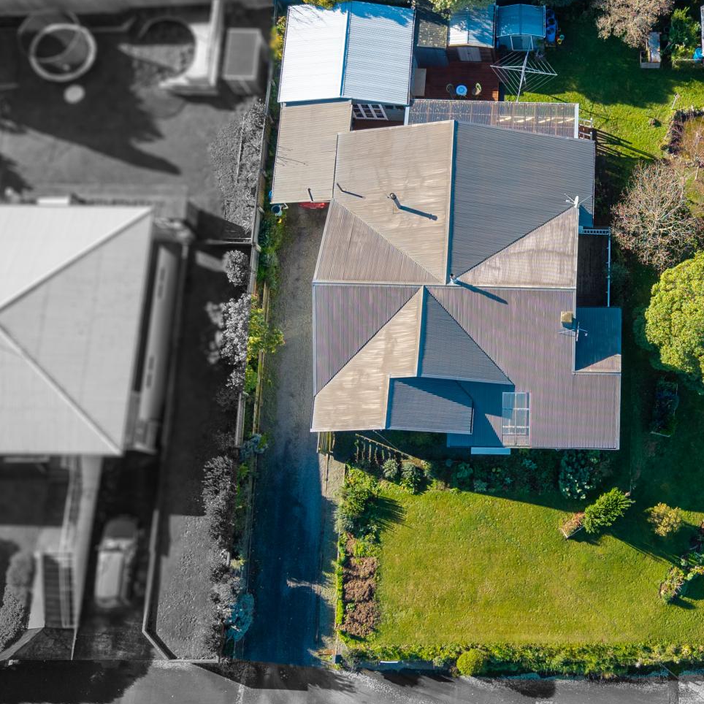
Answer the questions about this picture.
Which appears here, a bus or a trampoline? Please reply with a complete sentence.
Of the two, only a trampoline appears.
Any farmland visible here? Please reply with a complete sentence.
No, farmland can't be seen anywhere here.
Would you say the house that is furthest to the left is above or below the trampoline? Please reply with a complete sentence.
Looking at the scene, the house that is furthest to the left is located below the trampoline.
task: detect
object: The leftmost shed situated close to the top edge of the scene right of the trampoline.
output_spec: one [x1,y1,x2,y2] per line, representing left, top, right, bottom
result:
[225,30,272,88]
